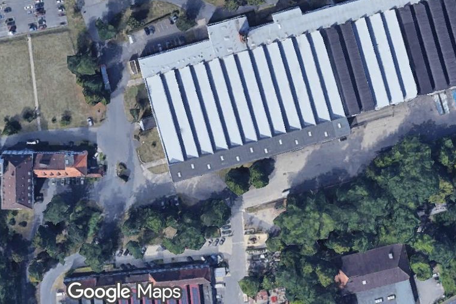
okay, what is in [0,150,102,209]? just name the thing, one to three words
building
